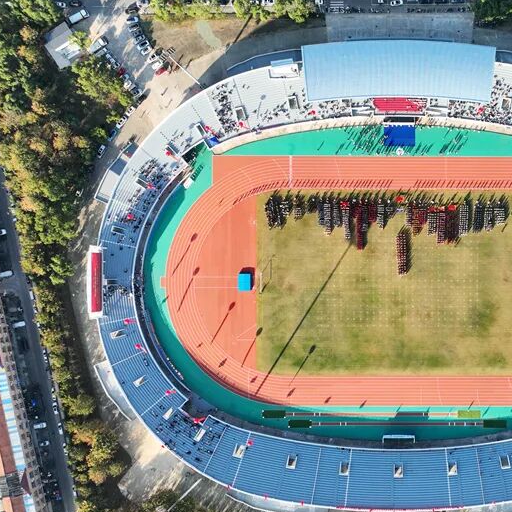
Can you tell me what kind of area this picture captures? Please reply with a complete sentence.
The area seen from above is a sports ground.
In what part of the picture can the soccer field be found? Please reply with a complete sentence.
You can find the soccer field in the right area of the picture.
